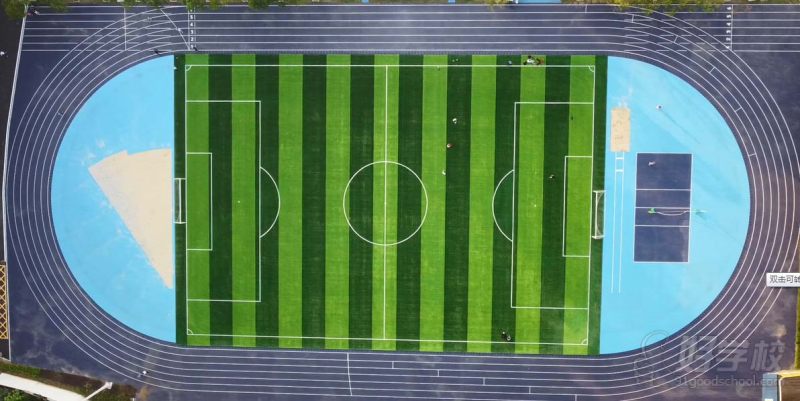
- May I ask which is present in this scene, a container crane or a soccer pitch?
soccer pitch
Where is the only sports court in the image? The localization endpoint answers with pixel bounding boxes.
[634,152,692,263]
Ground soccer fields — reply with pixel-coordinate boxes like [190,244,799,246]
[174,54,607,356]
